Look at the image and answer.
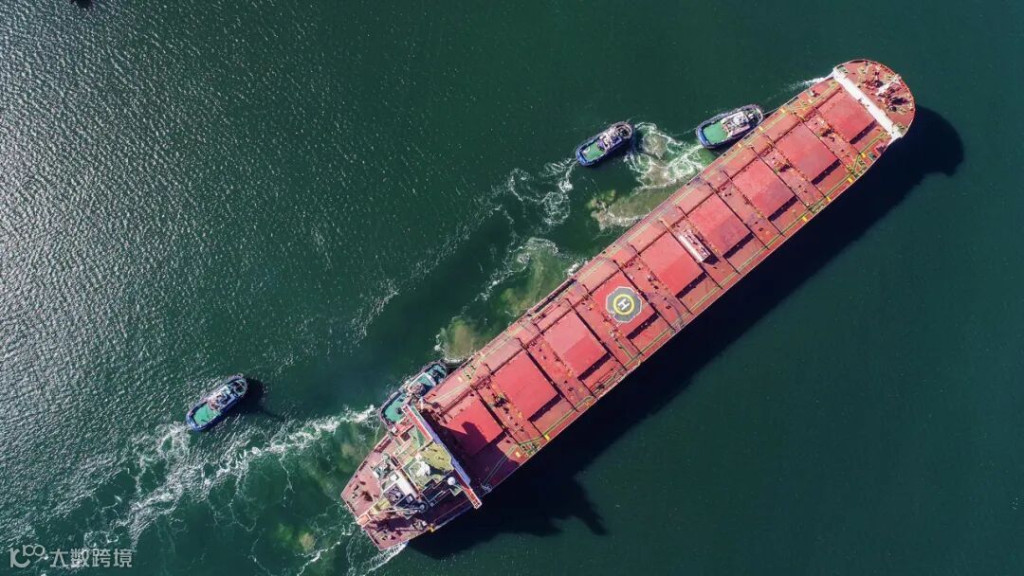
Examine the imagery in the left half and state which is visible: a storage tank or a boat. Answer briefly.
boat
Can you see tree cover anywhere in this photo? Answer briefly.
No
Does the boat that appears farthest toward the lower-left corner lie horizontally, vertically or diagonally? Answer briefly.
diagonally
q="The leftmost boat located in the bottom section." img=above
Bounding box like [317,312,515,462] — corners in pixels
[183,377,248,432]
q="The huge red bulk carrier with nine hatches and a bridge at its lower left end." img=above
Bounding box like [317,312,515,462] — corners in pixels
[342,57,916,549]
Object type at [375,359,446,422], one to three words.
boat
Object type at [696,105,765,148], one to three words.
boat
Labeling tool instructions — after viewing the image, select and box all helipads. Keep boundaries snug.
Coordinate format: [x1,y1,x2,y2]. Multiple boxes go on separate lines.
[606,288,641,323]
